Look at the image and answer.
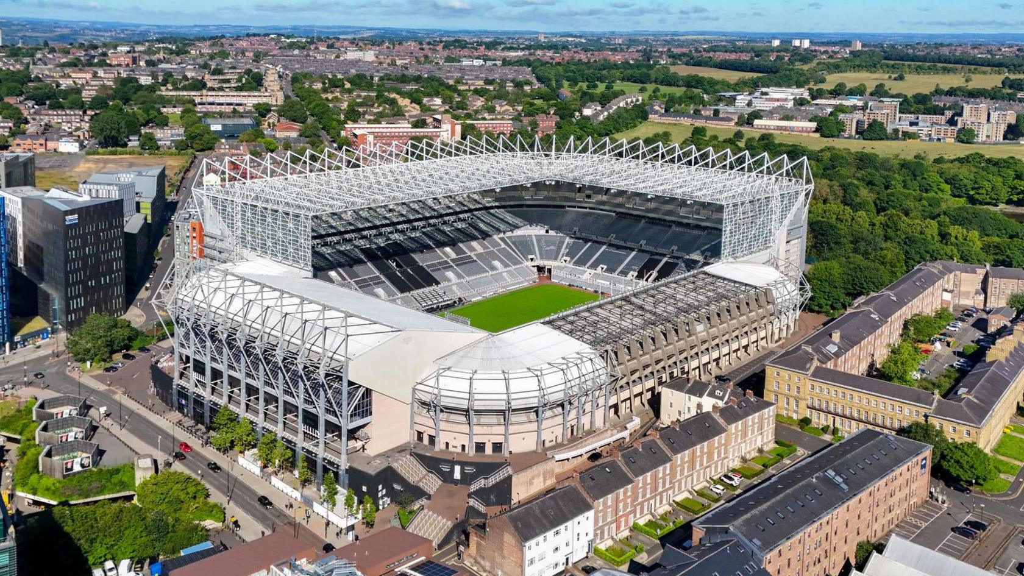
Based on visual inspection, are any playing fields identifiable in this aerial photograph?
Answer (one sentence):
Yes, a playing field appears in the view.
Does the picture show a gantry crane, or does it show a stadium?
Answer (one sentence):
Looking from above, you can make out a stadium.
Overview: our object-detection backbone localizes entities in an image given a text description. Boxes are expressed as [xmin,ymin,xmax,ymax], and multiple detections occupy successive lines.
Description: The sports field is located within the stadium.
[433,284,608,333]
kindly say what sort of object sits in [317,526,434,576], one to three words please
building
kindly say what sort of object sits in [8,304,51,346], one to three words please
building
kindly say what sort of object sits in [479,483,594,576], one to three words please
house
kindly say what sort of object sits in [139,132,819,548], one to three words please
stadium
